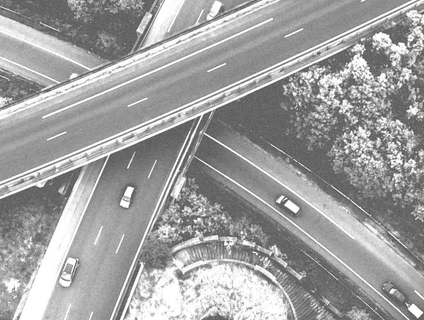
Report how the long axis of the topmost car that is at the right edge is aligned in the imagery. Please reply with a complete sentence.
The topmost car that is at the right edge is oriented diagonally.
